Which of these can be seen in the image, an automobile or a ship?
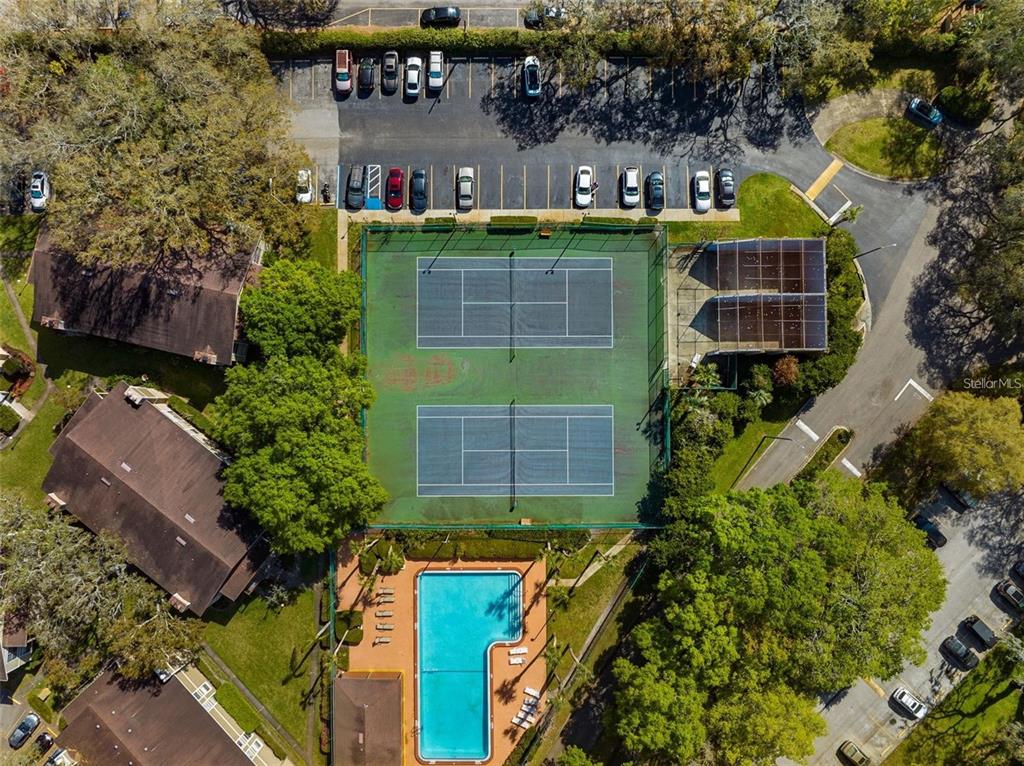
automobile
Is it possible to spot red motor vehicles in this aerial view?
Yes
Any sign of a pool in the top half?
No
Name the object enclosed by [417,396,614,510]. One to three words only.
tennis court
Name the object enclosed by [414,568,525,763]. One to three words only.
swimming pool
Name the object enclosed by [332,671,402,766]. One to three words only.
house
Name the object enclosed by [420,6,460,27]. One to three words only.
car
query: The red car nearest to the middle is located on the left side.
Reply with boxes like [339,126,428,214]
[386,168,405,210]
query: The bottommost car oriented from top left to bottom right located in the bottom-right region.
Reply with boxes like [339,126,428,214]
[836,736,873,766]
